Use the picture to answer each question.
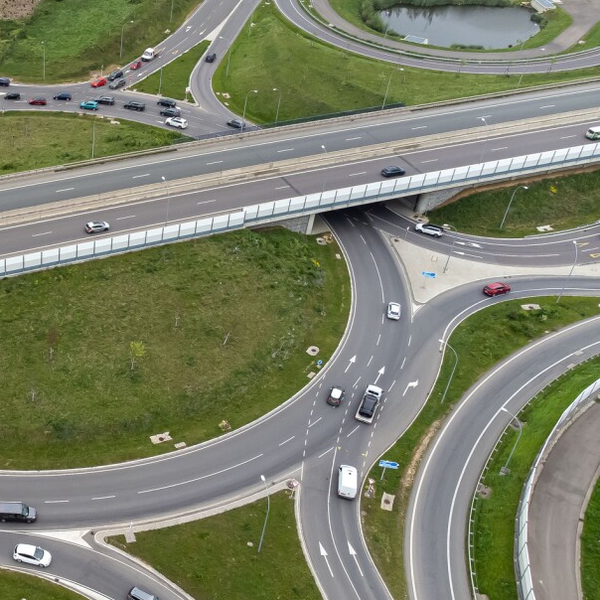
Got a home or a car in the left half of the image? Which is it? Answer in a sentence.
The one visible in the left half of the image is a car.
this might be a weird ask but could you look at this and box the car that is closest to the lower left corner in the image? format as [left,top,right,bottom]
[12,545,52,568]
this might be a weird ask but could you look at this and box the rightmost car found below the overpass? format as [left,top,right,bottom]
[481,283,511,297]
